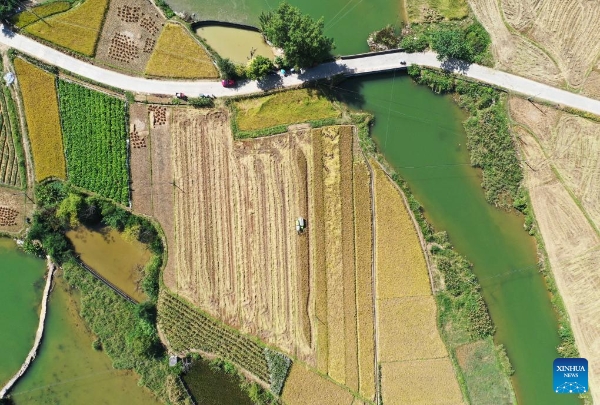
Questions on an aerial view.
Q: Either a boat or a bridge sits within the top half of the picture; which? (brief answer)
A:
bridge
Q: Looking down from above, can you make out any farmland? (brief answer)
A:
Yes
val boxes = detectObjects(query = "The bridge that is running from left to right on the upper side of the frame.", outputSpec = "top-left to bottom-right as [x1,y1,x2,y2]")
[338,47,408,79]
